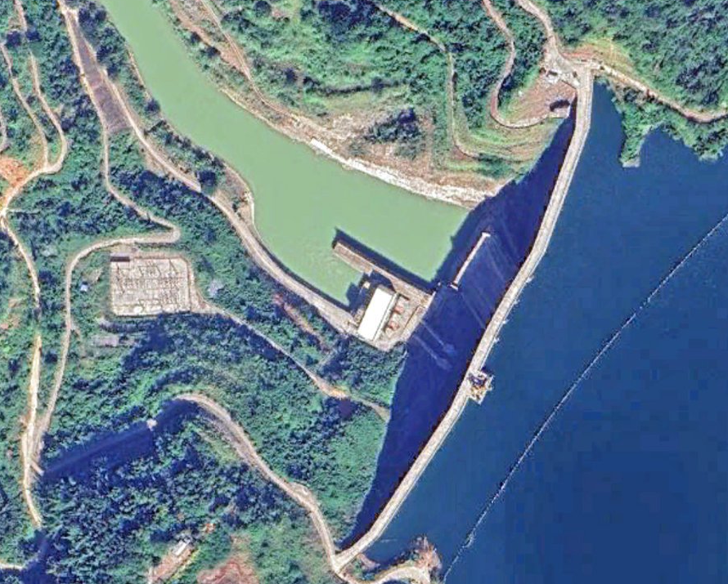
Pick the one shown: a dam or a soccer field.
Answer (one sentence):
I can see a dam in this picture.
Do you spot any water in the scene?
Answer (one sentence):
Yes, water shows up in the scene.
